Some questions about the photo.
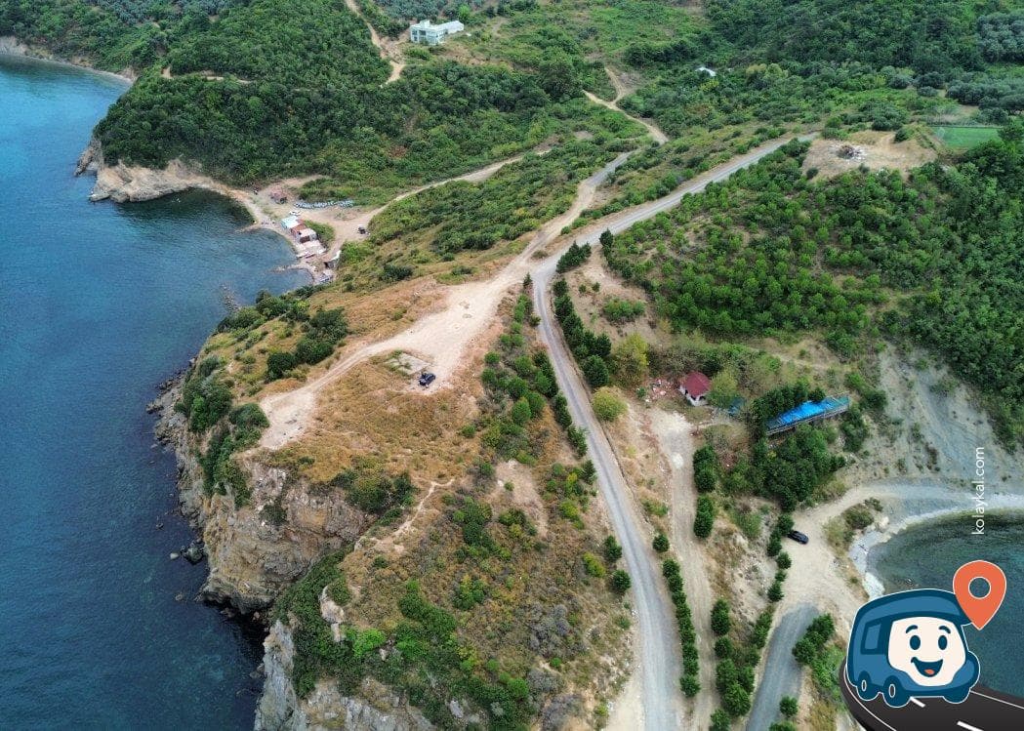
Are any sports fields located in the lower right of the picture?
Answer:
No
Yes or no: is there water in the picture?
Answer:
Yes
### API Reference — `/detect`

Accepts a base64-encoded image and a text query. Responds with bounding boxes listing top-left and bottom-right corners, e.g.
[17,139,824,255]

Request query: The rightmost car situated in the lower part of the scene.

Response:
[787,528,811,543]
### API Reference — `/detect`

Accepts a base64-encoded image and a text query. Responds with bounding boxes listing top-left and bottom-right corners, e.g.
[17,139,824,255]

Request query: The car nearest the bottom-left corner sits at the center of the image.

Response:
[416,366,436,383]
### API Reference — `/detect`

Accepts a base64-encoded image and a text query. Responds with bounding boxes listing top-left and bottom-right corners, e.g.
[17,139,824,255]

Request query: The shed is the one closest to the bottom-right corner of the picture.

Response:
[761,392,850,436]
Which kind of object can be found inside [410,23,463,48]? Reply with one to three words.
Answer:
house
